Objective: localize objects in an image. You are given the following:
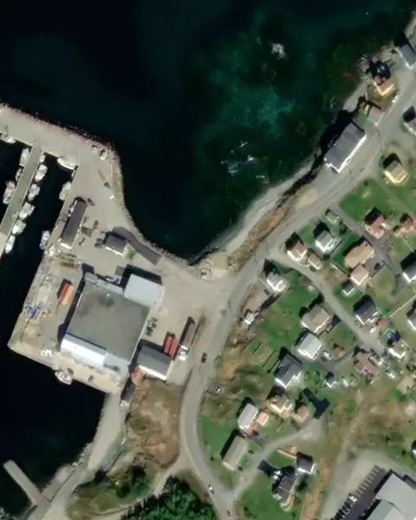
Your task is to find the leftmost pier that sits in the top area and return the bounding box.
[0,145,44,261]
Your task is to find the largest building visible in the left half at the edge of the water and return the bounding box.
[61,272,163,381]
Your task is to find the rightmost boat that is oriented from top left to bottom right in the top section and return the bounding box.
[57,157,76,171]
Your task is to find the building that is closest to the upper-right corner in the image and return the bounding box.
[397,42,416,70]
